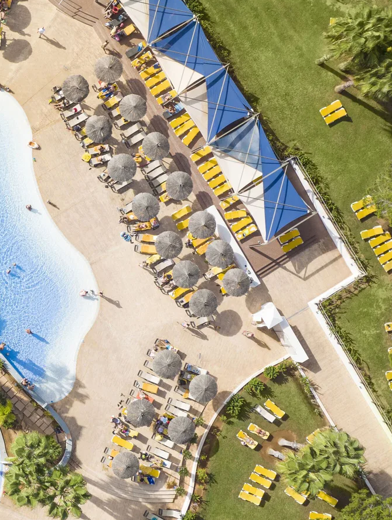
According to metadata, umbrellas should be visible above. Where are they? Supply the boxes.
[169,261,199,290]
[220,268,249,298]
[163,170,192,200]
[124,397,153,427]
[117,93,147,122]
[111,449,139,478]
[204,239,233,268]
[107,153,136,182]
[152,350,181,378]
[128,192,158,222]
[82,115,112,145]
[188,289,217,319]
[186,210,215,240]
[188,374,216,402]
[141,131,169,161]
[153,230,181,259]
[165,416,194,444]
[92,55,122,85]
